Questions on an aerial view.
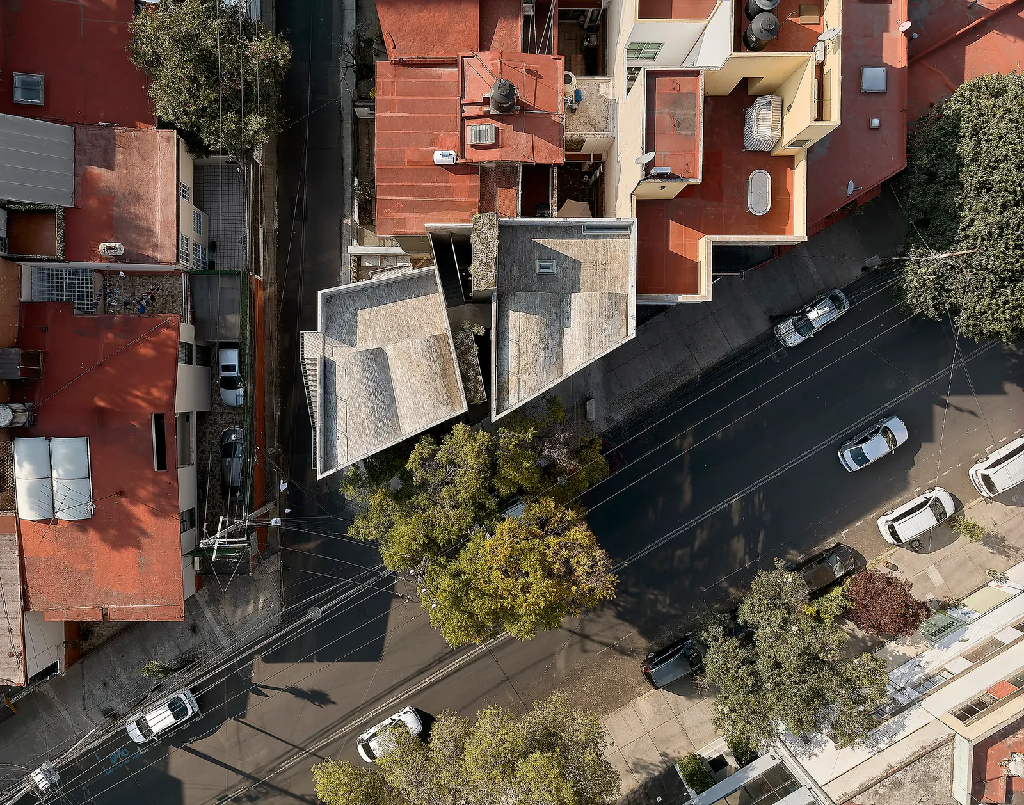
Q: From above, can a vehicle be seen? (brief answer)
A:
Yes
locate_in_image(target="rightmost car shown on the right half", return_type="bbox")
[967,435,1024,495]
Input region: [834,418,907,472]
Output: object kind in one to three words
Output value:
car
